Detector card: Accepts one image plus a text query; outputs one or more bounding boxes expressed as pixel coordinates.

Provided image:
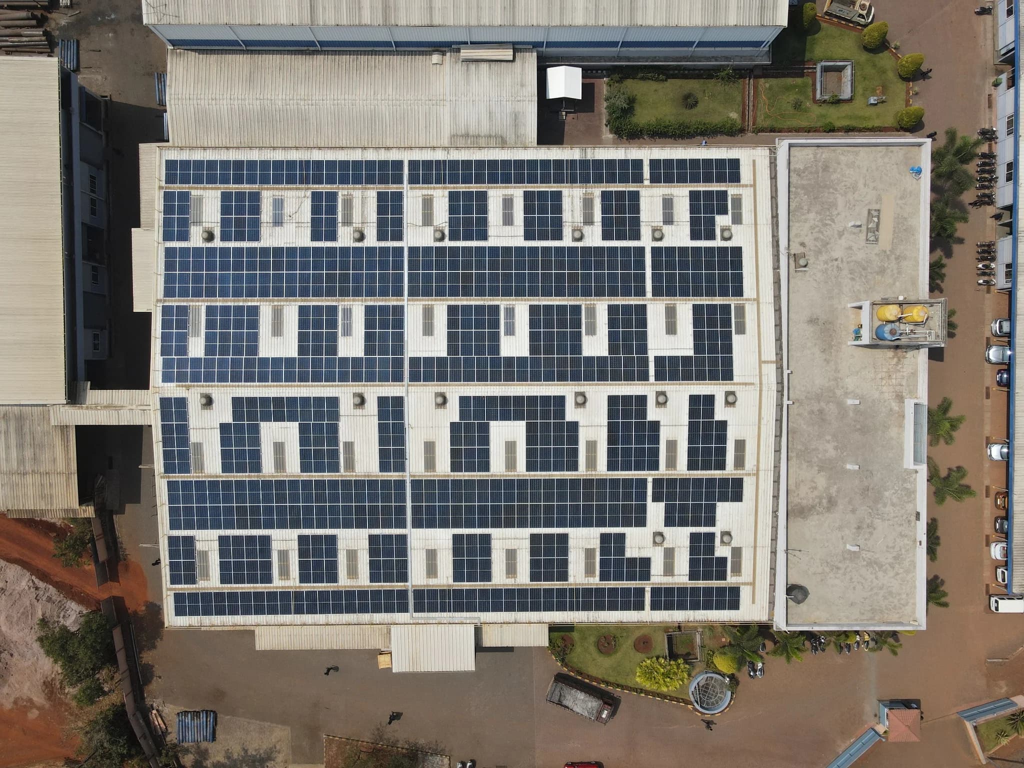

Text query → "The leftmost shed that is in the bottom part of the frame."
[0,407,120,518]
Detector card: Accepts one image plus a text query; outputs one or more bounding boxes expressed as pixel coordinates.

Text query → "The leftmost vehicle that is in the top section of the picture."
[826,0,875,26]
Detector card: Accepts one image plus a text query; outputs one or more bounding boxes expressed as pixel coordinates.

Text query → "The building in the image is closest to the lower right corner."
[876,699,922,748]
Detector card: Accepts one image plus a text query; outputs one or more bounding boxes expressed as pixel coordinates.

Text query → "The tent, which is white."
[546,63,581,109]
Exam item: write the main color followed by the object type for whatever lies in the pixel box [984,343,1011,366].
gray car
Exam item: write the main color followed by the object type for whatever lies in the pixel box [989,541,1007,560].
white car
